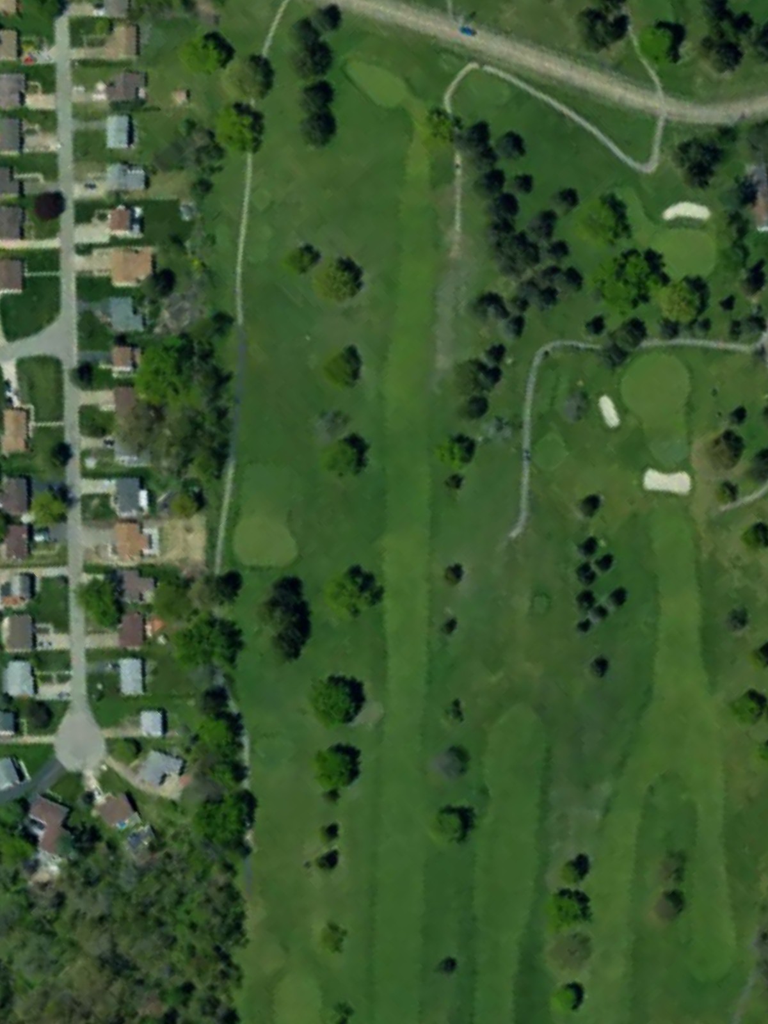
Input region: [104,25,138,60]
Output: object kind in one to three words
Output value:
house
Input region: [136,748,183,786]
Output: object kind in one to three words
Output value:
house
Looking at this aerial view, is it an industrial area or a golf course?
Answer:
golf course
